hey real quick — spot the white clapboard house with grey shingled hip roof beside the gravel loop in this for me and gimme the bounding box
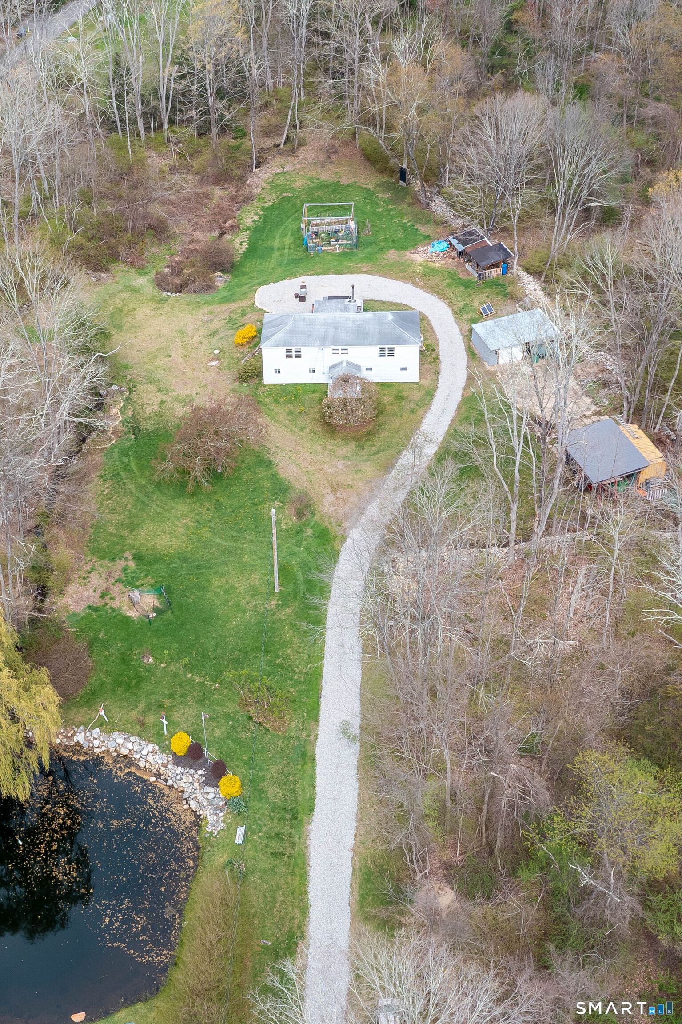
[259,284,424,398]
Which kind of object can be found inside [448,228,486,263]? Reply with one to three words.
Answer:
shed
